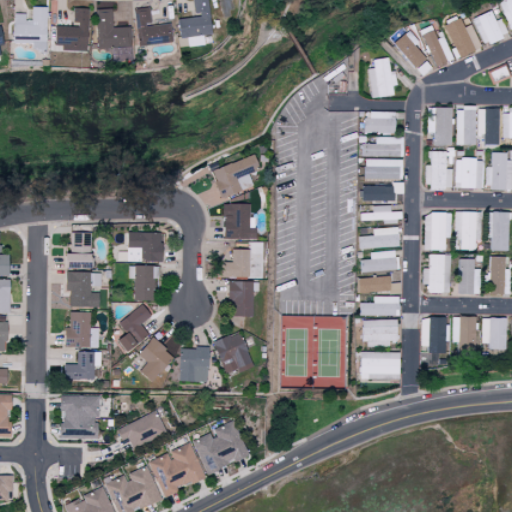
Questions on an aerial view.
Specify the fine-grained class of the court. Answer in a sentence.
From above, the court can be identified as a tennis court.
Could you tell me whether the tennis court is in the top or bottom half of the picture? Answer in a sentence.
You can find the tennis court in the bottom half.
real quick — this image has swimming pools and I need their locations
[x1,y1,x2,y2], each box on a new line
[14,46,36,60]
[92,52,112,62]
[257,210,266,234]
[96,312,108,334]
[114,304,134,320]
[152,44,175,56]
[97,238,106,260]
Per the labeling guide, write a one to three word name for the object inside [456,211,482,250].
house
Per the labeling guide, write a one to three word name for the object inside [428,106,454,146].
house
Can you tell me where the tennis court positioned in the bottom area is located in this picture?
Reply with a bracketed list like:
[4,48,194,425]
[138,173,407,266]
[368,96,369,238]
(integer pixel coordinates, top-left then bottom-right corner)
[282,316,347,388]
